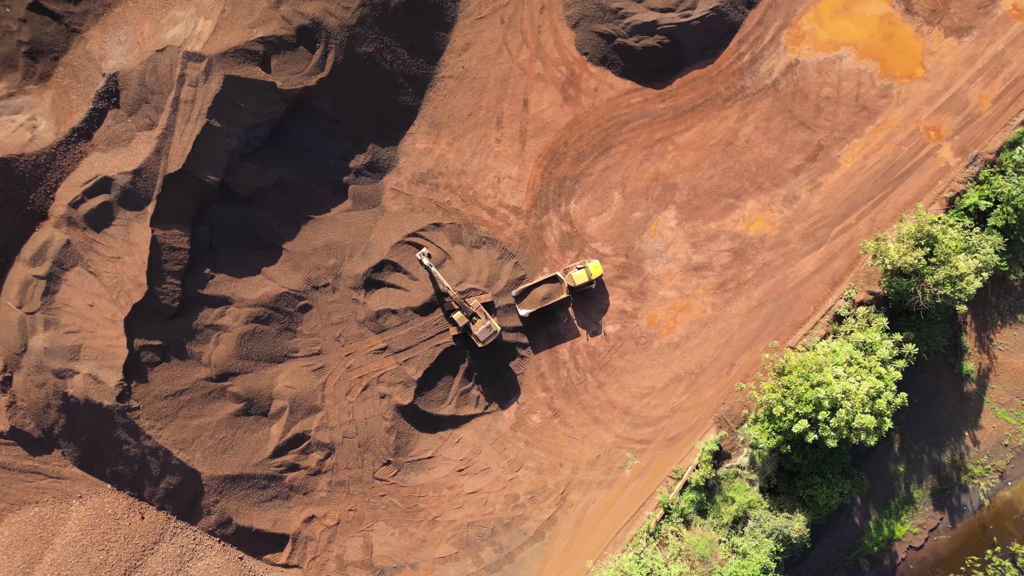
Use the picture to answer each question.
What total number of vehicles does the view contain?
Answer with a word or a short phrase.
2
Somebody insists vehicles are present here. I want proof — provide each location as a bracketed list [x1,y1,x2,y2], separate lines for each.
[510,254,605,321]
[410,244,500,347]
